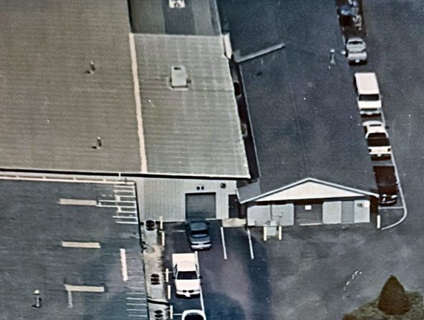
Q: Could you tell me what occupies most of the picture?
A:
buildings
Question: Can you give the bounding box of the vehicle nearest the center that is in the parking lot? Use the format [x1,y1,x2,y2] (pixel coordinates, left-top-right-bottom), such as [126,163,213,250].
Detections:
[183,216,209,247]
